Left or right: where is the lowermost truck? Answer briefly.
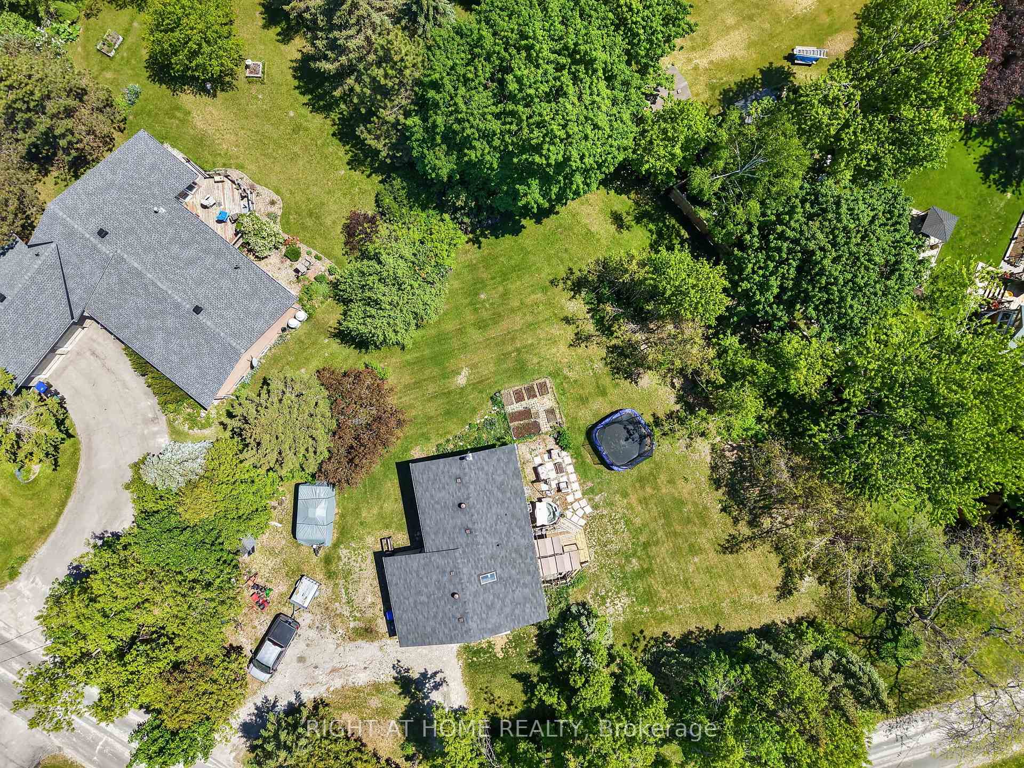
left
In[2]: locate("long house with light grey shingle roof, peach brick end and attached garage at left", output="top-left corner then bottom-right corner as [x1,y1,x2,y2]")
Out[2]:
[0,129,309,412]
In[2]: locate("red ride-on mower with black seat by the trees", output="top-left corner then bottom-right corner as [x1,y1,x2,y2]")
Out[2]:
[248,588,273,612]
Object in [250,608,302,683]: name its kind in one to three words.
truck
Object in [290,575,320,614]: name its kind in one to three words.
trailer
